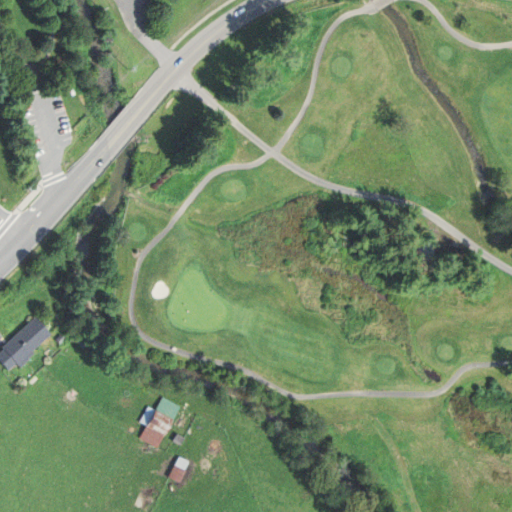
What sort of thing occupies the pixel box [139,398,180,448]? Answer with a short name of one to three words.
barn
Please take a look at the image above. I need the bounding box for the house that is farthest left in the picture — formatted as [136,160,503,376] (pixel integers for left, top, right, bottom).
[0,318,50,372]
